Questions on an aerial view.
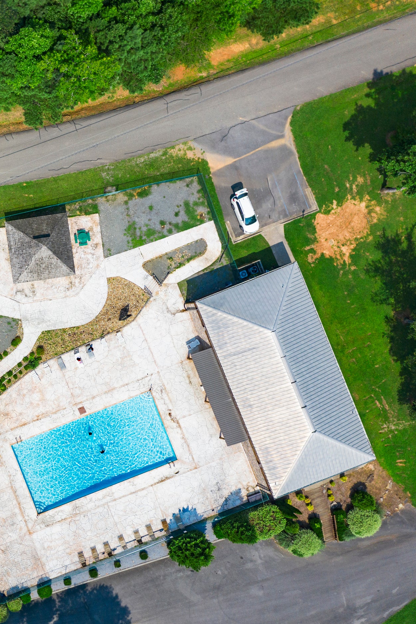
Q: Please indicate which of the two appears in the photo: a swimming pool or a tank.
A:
swimming pool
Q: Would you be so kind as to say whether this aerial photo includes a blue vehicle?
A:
No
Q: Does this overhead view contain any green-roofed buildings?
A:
No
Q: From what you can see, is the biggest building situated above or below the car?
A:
below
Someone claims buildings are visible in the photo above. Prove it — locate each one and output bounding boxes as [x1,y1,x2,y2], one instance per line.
[186,260,377,500]
[4,212,76,284]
